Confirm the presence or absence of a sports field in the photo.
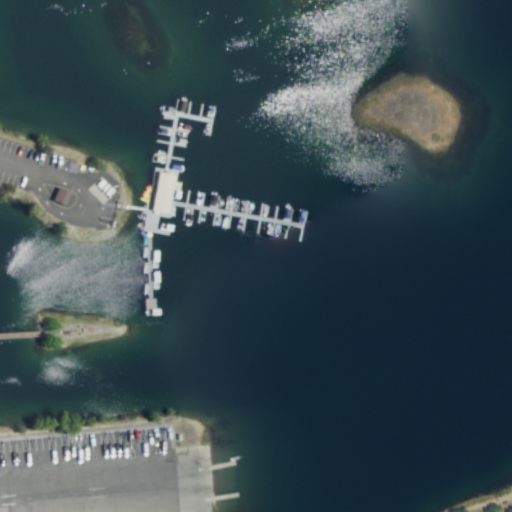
No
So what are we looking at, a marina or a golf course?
marina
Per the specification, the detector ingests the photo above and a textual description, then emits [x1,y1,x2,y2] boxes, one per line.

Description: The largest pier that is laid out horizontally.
[174,190,308,241]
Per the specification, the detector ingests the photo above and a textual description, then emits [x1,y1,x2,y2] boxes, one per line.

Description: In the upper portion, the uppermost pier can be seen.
[156,99,216,172]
